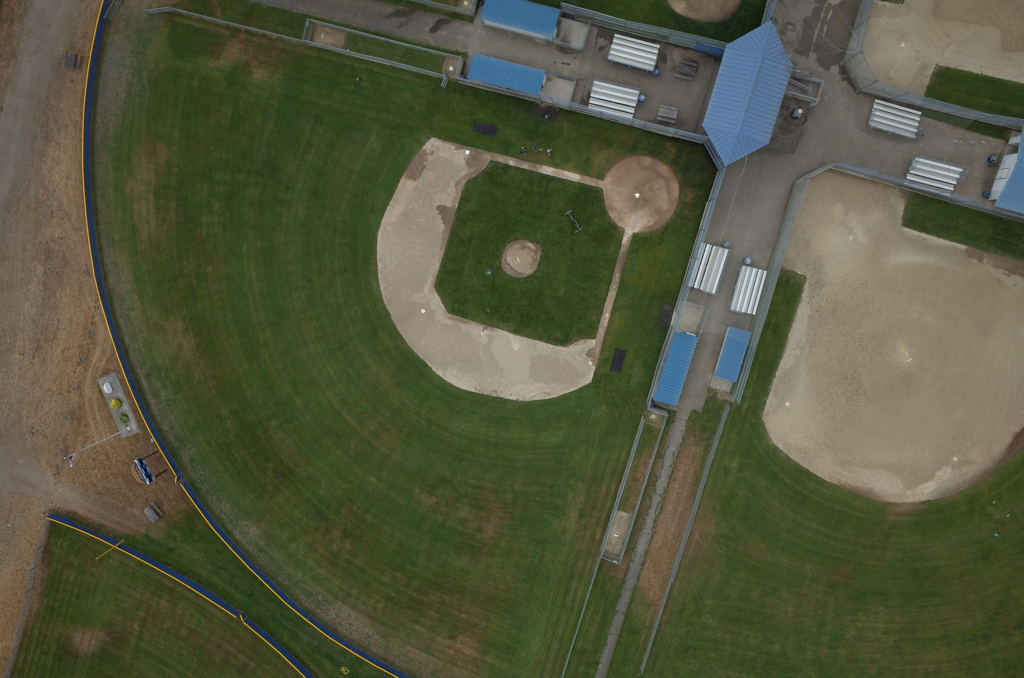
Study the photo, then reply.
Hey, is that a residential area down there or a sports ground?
sports ground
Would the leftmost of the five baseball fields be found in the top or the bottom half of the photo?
bottom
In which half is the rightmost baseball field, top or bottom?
top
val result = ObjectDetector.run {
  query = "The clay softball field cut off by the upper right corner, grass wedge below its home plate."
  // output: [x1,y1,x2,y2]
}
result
[843,0,1024,131]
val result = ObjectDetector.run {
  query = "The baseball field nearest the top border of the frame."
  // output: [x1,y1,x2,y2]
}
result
[550,0,767,49]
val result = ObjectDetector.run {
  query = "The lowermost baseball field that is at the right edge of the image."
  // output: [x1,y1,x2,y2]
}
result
[638,165,1024,678]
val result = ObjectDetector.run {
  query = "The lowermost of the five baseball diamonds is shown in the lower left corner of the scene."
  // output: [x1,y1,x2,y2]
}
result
[10,515,306,678]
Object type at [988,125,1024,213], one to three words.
shed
